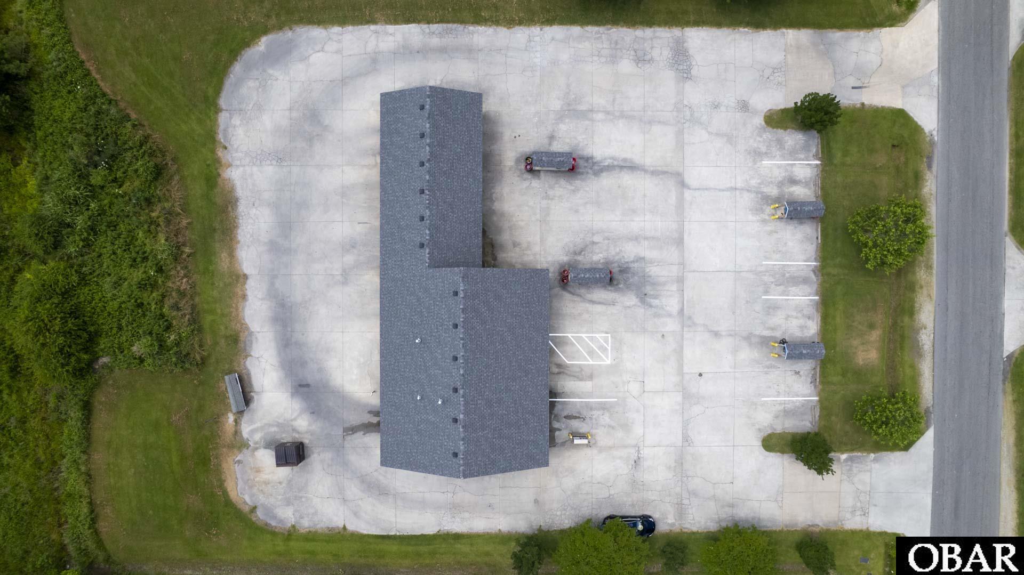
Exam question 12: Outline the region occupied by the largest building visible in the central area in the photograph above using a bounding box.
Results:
[380,86,549,479]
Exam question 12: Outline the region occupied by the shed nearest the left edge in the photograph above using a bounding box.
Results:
[224,374,251,414]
